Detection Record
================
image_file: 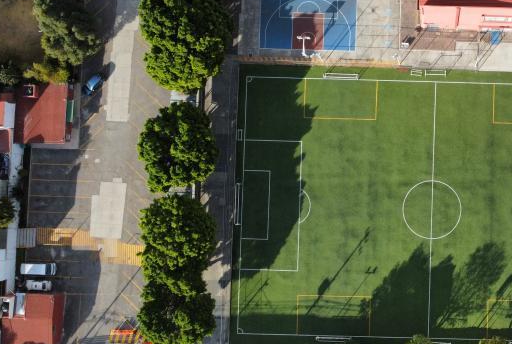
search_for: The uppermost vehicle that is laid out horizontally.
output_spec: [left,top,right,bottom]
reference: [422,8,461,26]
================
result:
[16,263,57,278]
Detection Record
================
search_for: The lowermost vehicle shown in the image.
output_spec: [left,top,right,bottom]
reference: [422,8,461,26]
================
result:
[25,280,53,292]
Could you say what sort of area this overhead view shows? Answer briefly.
sports ground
